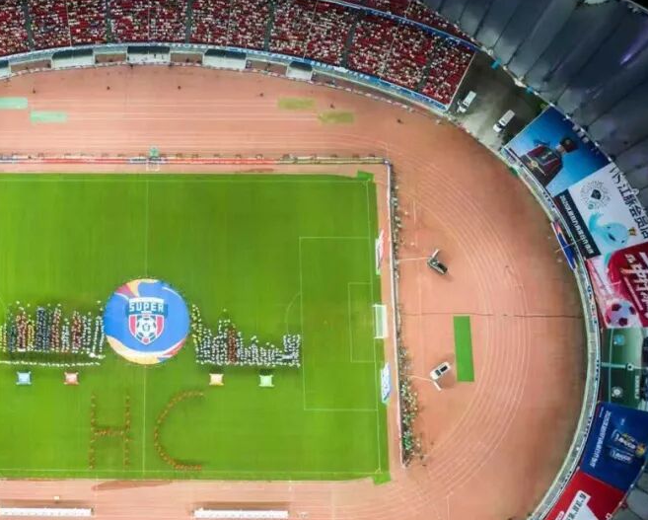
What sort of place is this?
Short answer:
sports ground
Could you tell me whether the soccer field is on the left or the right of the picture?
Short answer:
left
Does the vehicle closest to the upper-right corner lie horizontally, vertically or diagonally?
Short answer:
diagonally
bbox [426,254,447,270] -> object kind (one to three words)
car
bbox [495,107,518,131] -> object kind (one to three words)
vehicle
